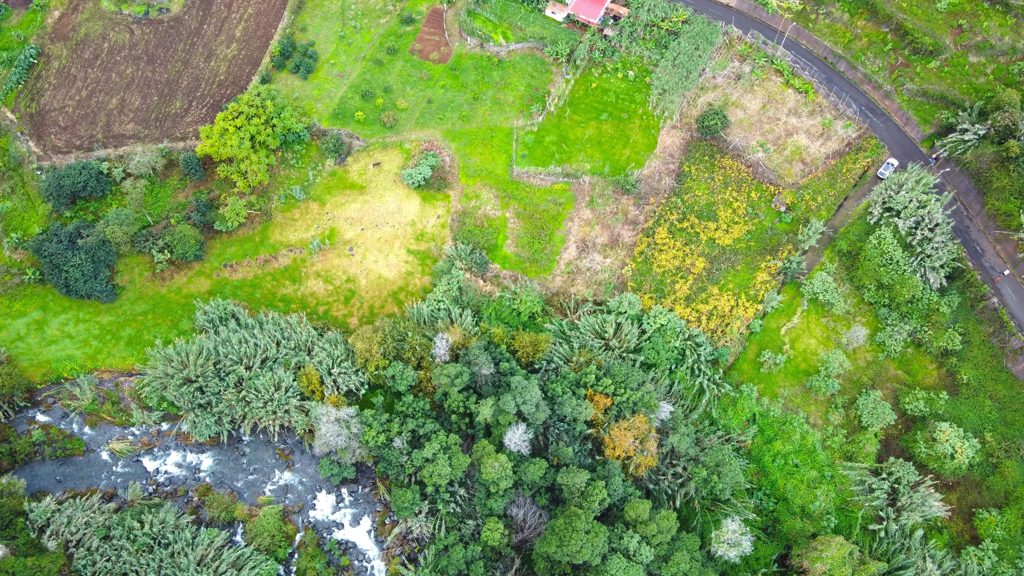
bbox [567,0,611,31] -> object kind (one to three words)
house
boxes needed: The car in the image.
[878,159,896,176]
